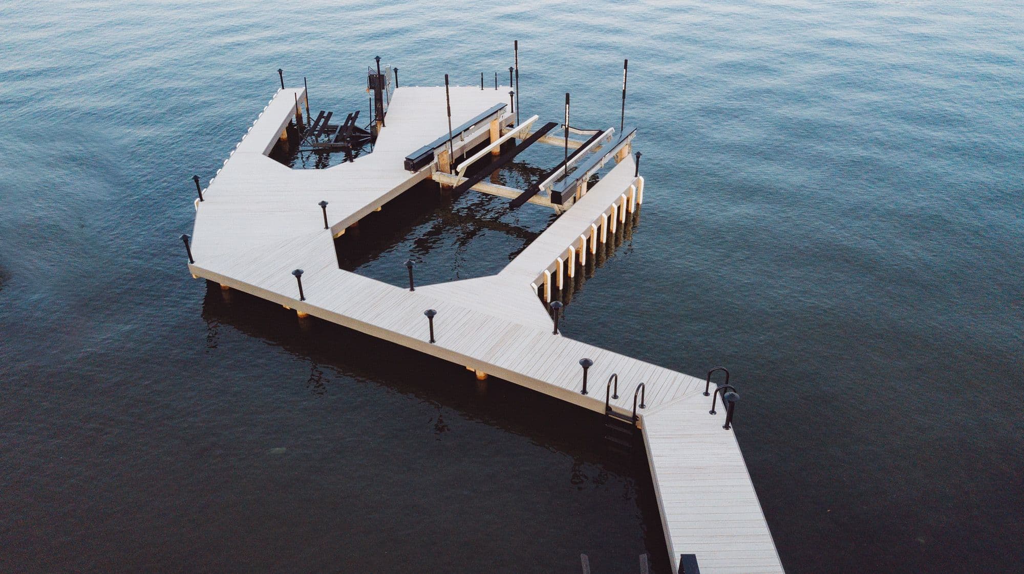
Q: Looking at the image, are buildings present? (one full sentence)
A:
No, the picture doesn't show any building.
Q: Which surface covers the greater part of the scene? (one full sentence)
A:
The largest share of the image is taken up by water.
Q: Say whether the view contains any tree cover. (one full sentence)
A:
No, the scene doesn't show any tree cover.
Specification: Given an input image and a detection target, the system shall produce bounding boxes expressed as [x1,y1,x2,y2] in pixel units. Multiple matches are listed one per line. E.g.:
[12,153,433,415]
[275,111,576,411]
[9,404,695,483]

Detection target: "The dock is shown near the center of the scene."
[188,86,786,574]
